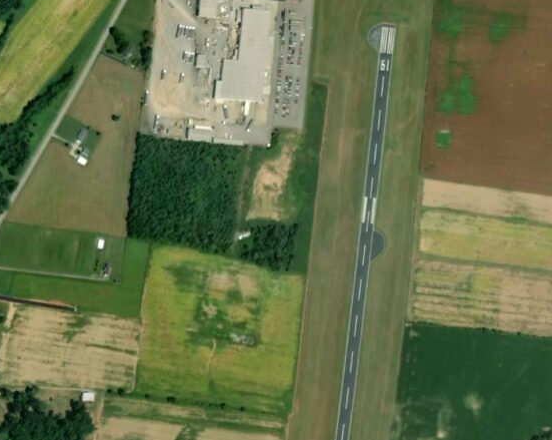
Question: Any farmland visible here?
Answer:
Yes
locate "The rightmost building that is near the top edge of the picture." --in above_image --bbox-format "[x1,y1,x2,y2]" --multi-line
[215,8,275,100]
